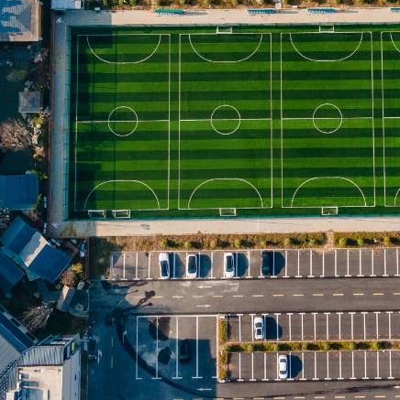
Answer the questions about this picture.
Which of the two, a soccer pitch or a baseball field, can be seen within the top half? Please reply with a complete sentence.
The one visible within the top half is a soccer pitch.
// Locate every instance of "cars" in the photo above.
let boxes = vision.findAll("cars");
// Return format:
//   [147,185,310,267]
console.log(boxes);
[160,253,169,277]
[180,338,190,362]
[262,253,272,276]
[278,354,288,378]
[186,253,197,276]
[223,253,234,277]
[253,316,264,338]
